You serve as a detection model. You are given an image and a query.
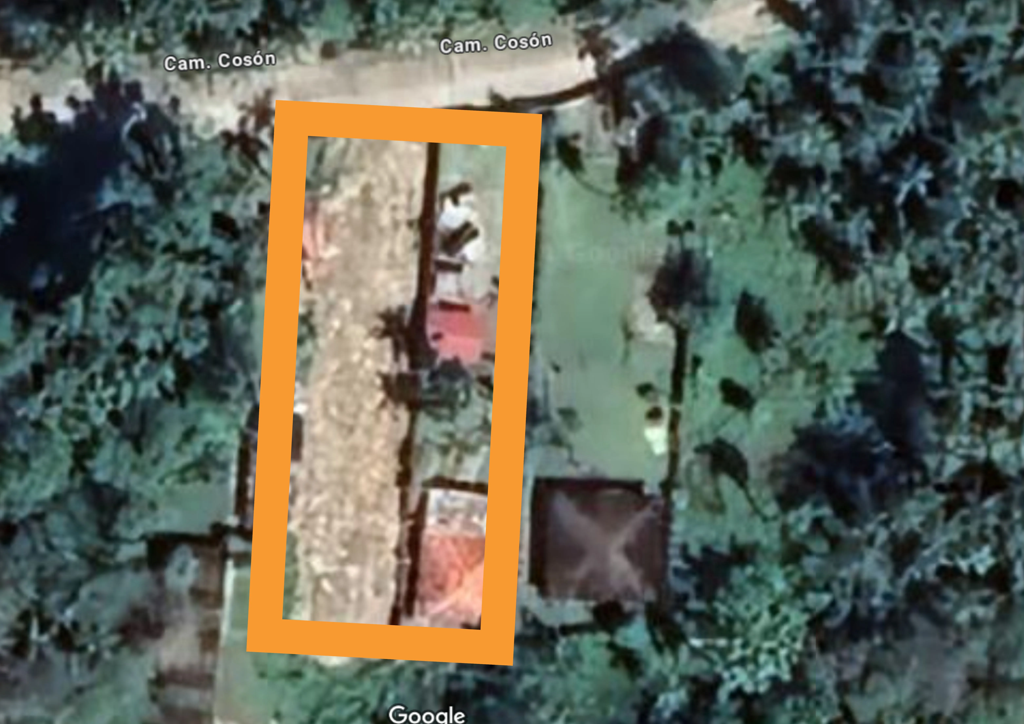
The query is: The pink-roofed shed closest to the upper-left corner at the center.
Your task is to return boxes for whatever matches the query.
[431,305,490,362]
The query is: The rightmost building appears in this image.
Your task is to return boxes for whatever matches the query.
[540,485,669,602]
